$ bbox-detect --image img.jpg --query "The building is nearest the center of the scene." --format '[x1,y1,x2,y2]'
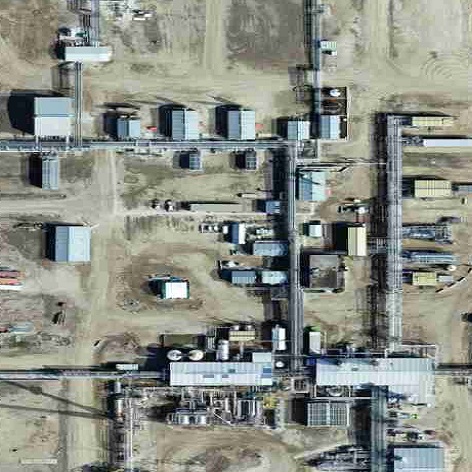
[231,223,247,244]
